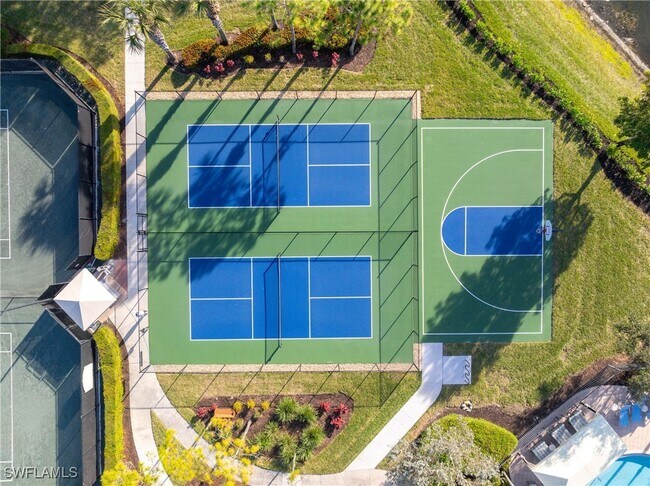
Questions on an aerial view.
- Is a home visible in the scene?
No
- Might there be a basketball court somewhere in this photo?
Yes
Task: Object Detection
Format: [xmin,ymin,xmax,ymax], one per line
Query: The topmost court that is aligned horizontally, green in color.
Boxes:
[146,98,418,233]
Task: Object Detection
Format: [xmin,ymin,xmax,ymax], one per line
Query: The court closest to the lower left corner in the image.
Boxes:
[0,297,84,486]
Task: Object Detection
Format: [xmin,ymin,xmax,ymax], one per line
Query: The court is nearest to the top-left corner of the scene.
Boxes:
[0,72,83,297]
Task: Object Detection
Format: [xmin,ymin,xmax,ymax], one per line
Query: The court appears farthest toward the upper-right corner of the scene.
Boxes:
[418,120,554,343]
